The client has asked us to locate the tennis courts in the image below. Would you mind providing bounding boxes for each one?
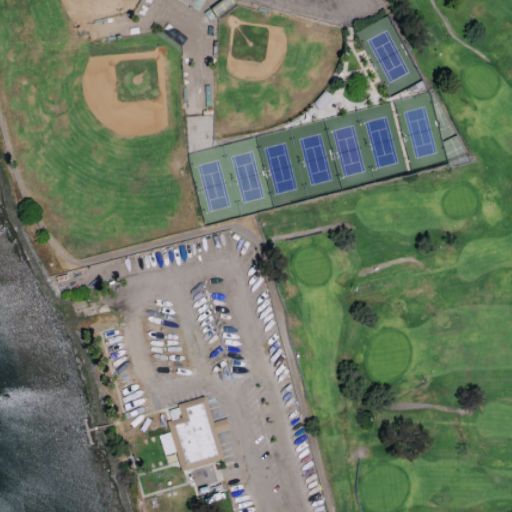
[291,118,341,196]
[325,108,375,188]
[356,16,421,97]
[432,92,468,163]
[360,102,408,180]
[396,92,448,170]
[223,135,274,214]
[256,126,307,206]
[189,144,240,224]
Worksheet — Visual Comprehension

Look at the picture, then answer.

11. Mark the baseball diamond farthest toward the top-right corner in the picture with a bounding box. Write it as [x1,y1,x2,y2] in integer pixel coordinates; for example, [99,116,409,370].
[214,7,342,140]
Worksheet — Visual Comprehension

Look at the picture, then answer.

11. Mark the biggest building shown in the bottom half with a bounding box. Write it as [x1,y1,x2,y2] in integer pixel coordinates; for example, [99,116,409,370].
[168,396,230,470]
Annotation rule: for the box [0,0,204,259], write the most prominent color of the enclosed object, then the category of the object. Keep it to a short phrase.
green baseball field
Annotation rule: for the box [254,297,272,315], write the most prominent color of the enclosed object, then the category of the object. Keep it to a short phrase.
white boat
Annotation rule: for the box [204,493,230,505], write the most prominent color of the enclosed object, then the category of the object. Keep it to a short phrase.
white boat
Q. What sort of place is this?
sports ground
